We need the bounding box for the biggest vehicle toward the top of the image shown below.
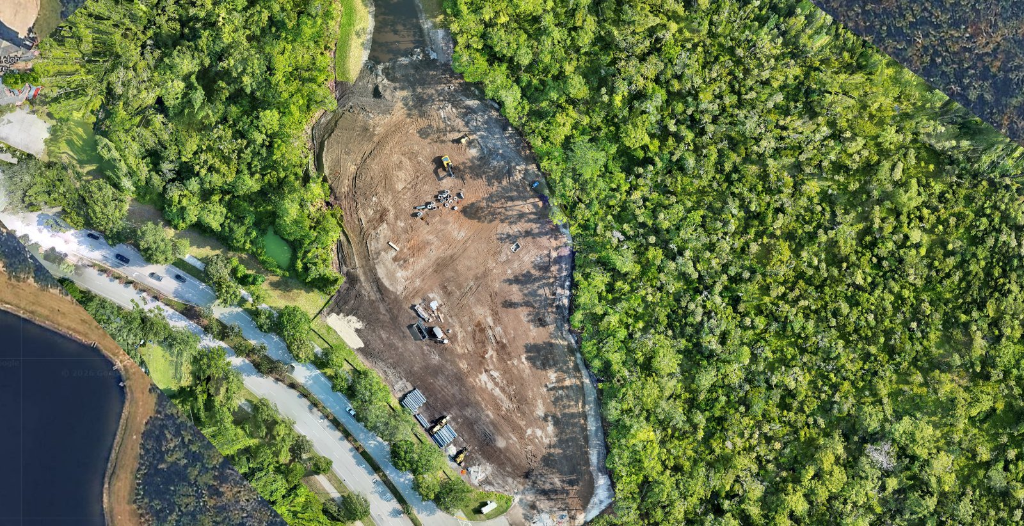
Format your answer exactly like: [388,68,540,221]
[441,155,457,180]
